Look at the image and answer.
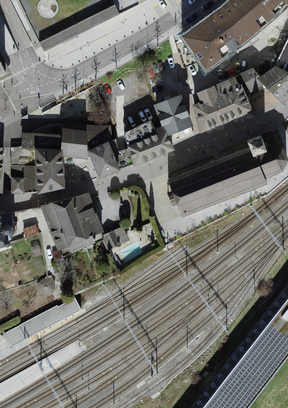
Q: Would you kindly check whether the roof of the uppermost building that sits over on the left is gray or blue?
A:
gray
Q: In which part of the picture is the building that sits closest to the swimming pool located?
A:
center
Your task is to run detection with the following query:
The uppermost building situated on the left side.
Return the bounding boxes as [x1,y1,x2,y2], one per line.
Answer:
[40,0,120,52]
